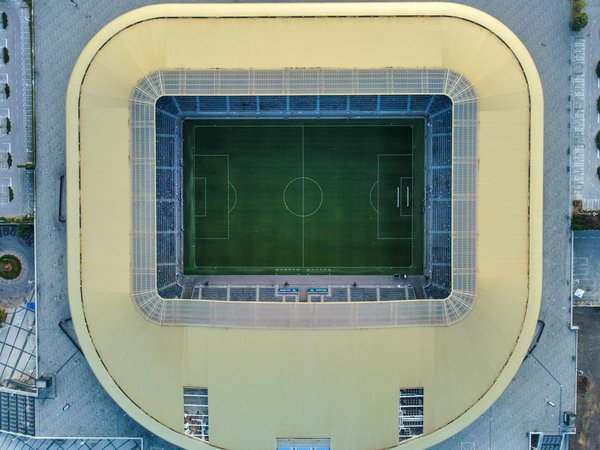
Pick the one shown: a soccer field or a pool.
soccer field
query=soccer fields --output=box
[183,119,424,275]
